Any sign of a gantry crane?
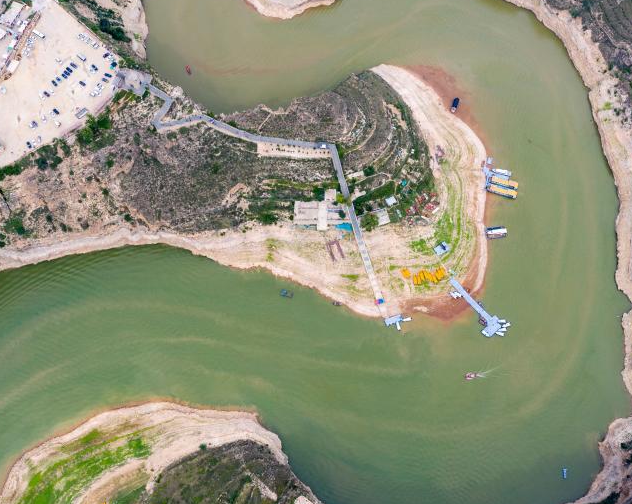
No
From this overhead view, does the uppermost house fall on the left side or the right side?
left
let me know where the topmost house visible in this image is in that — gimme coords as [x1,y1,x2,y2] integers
[0,1,26,26]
